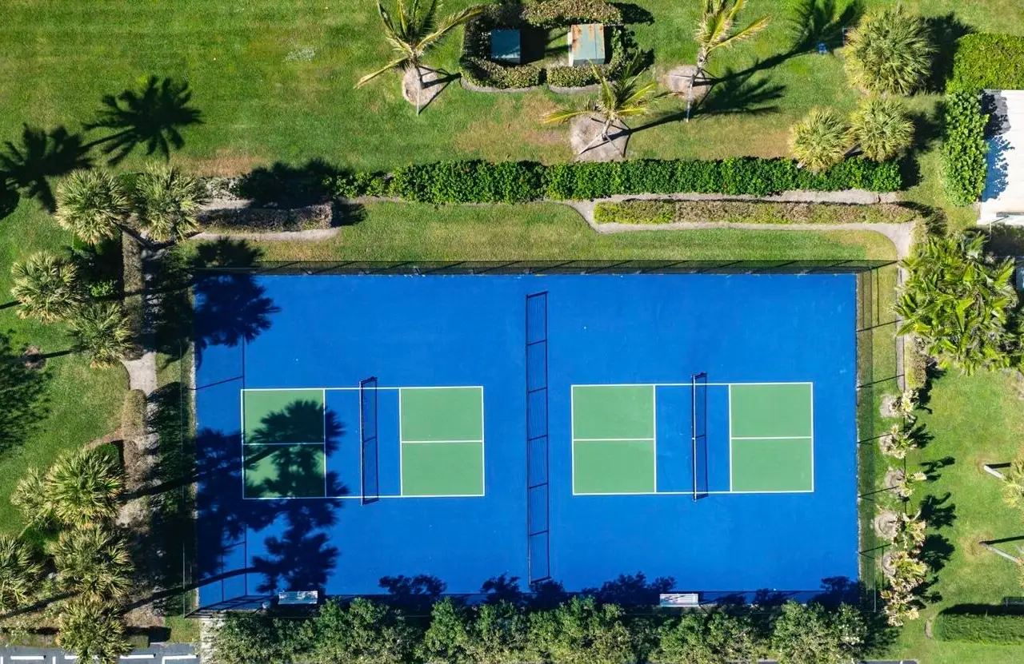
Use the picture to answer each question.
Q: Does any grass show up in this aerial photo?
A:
Yes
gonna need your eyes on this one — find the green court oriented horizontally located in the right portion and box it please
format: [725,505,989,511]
[571,382,815,496]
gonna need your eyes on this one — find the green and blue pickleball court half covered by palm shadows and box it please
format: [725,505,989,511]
[241,386,485,500]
